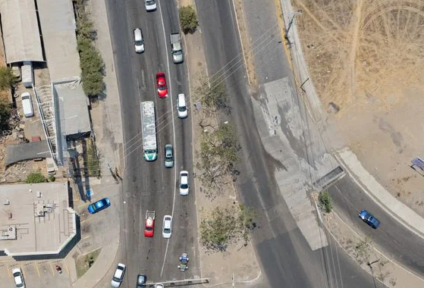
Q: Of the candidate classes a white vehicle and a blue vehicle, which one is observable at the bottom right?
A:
blue vehicle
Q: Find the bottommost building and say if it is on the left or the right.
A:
left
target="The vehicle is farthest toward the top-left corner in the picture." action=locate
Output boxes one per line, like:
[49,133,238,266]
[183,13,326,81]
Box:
[21,60,34,91]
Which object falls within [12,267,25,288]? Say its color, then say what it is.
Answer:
white vehicle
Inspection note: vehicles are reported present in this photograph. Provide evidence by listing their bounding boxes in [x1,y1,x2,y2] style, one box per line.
[21,94,34,119]
[21,60,34,91]
[111,262,126,288]
[155,282,163,288]
[135,274,147,288]
[86,198,111,213]
[142,98,159,162]
[12,267,25,288]
[144,0,155,11]
[179,171,189,196]
[144,210,154,237]
[176,94,187,119]
[358,211,381,229]
[156,72,168,97]
[165,145,174,168]
[134,27,144,53]
[162,215,173,238]
[171,32,182,63]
